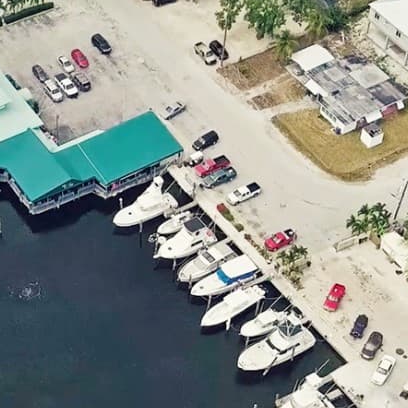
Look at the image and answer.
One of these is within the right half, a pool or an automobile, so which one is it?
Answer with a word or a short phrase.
automobile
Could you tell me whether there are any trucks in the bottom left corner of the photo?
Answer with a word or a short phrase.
No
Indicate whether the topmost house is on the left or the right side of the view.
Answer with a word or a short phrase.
right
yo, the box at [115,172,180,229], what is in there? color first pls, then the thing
white boat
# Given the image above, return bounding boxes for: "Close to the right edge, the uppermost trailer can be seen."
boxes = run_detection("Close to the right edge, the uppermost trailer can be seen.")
[380,233,408,276]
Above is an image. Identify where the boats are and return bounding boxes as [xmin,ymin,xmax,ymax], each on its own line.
[292,357,331,408]
[179,239,243,284]
[153,203,219,261]
[240,308,320,380]
[159,210,197,233]
[203,276,270,329]
[242,308,294,336]
[278,368,341,404]
[192,258,268,300]
[115,172,180,229]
